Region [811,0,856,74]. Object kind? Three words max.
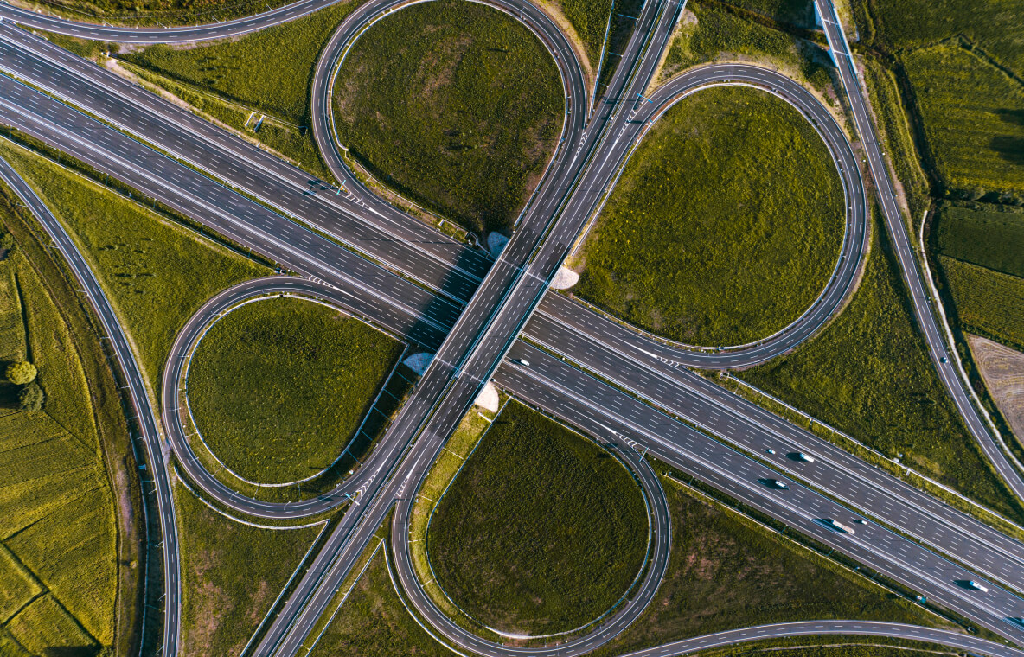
bridge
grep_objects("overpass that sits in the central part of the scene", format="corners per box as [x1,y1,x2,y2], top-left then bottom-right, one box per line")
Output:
[424,237,561,405]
